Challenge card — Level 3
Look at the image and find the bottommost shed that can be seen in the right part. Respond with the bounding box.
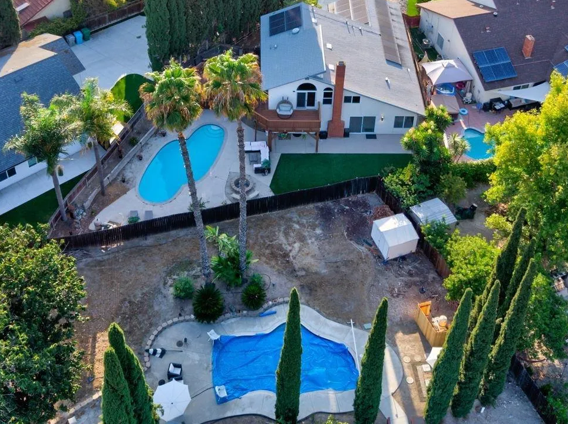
[374,225,418,273]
